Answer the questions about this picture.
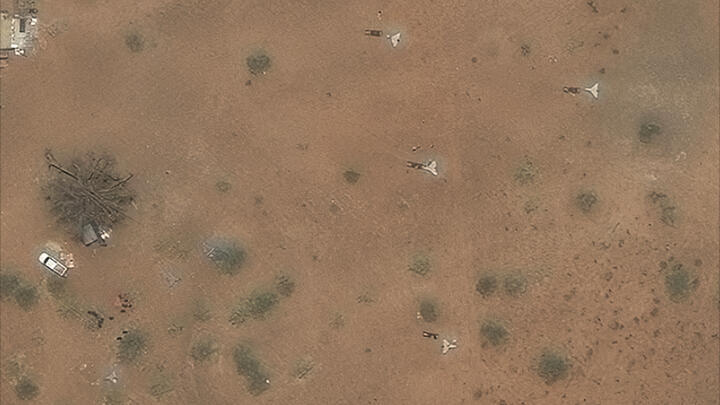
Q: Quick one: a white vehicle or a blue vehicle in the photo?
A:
white vehicle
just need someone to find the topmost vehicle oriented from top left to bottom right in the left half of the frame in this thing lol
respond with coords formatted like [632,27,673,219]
[38,252,68,277]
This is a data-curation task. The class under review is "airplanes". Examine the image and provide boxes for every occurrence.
[423,161,437,175]
[391,32,401,47]
[442,340,456,353]
[585,84,599,98]
[105,371,117,380]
